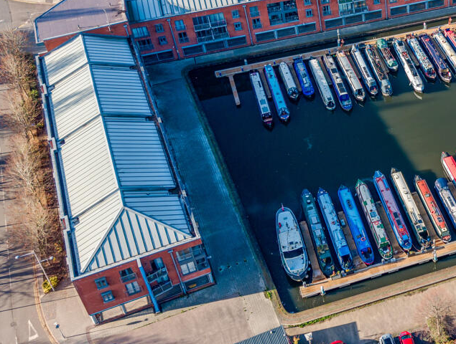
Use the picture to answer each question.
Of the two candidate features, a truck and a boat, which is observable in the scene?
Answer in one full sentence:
Of the two, only a boat appears.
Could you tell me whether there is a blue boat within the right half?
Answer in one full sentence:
Yes, a blue boat is visible within the right half.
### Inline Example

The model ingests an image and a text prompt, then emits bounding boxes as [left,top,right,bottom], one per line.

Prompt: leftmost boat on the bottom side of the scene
[270,200,308,283]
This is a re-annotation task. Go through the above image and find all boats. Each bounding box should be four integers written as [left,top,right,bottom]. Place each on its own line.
[415,174,451,244]
[270,200,308,283]
[337,50,364,101]
[374,169,413,253]
[365,44,390,97]
[340,184,374,266]
[357,178,393,261]
[421,33,450,83]
[407,36,434,81]
[350,44,376,95]
[434,32,456,75]
[318,186,354,272]
[279,61,298,101]
[378,36,397,72]
[293,57,313,98]
[323,52,350,111]
[249,68,272,125]
[302,188,333,277]
[309,58,334,111]
[391,167,431,250]
[392,39,422,93]
[263,65,288,120]
[438,177,456,233]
